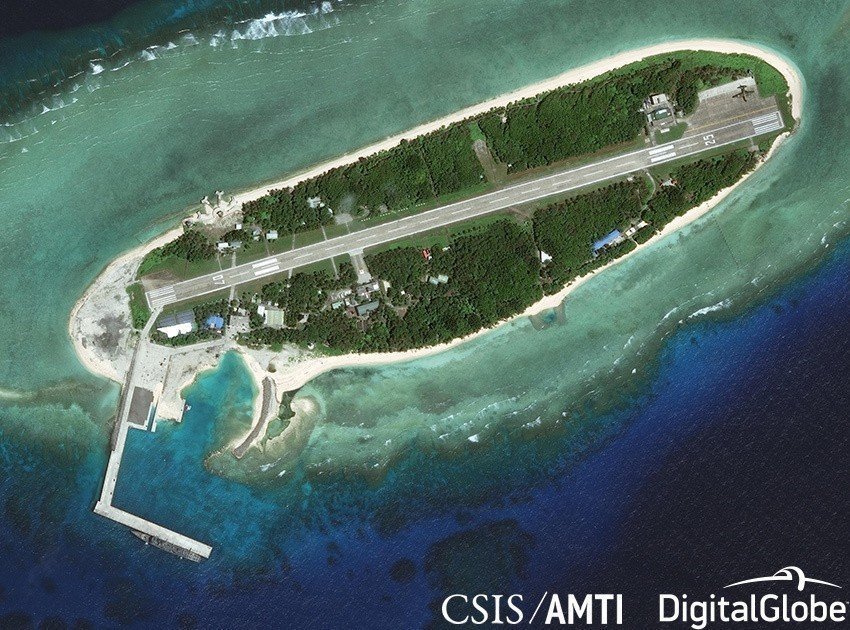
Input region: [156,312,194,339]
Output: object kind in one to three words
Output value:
hangar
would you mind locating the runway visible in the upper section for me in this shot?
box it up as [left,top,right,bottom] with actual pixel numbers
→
[147,111,784,309]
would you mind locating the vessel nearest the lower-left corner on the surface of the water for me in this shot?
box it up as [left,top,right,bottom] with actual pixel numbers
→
[131,531,201,563]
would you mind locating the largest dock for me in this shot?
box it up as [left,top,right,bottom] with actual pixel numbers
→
[94,427,212,558]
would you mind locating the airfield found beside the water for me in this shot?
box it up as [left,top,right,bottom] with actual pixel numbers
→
[147,77,784,309]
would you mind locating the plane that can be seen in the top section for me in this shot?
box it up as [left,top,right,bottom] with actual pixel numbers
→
[733,85,755,102]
